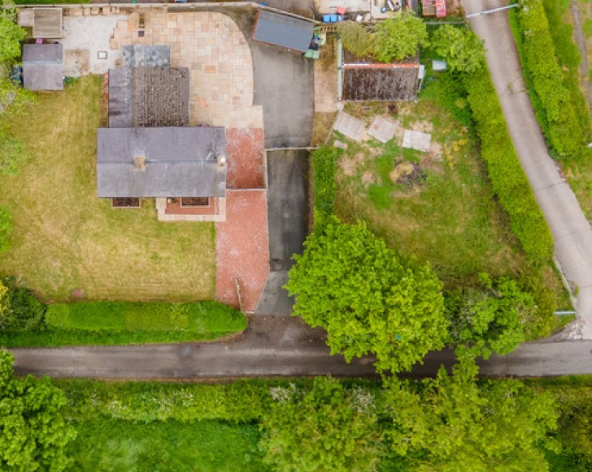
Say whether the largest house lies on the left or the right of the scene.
left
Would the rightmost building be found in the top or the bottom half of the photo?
top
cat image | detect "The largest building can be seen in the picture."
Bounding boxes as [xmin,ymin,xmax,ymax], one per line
[98,44,232,207]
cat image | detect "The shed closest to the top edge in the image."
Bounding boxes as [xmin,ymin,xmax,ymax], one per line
[249,11,314,52]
